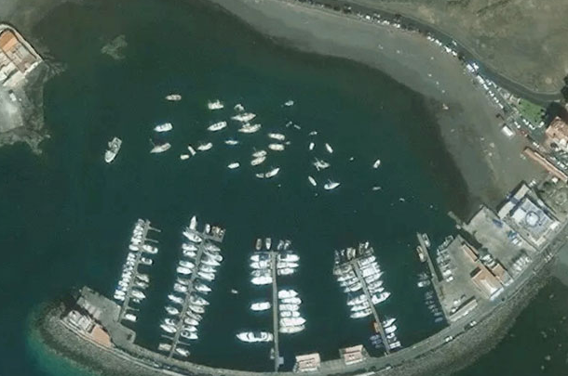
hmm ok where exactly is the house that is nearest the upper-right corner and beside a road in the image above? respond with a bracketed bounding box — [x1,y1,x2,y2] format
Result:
[546,119,568,149]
